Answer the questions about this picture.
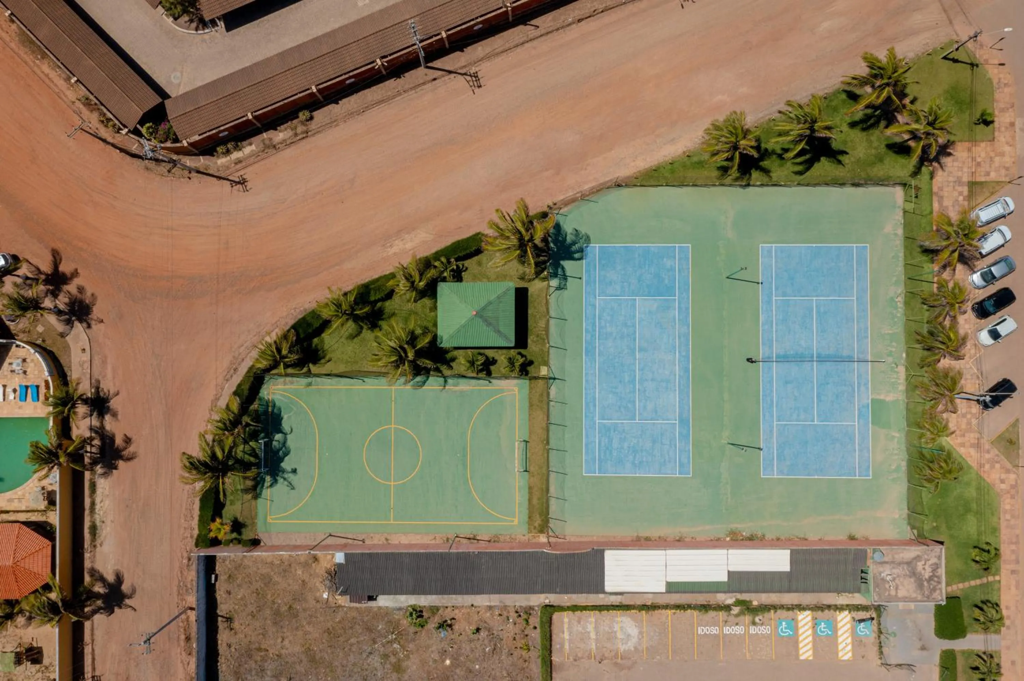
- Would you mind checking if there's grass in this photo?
Yes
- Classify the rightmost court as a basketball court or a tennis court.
tennis court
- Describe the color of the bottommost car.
black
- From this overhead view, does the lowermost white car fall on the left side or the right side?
right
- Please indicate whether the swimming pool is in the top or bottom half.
bottom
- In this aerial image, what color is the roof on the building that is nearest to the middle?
green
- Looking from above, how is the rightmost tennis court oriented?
vertically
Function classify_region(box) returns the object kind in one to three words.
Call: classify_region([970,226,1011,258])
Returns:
car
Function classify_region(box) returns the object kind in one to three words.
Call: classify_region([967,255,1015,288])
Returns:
car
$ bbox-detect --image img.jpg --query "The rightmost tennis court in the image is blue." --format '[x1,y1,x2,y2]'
[760,244,872,479]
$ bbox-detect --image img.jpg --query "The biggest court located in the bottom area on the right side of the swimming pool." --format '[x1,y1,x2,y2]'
[257,377,529,534]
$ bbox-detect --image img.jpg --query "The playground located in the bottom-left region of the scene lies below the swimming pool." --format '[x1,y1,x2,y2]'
[0,633,43,672]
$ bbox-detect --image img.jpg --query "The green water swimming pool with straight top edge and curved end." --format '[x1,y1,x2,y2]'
[0,416,50,495]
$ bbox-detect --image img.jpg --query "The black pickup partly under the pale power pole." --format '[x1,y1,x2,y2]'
[975,375,1020,412]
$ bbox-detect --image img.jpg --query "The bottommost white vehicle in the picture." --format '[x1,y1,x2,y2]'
[975,314,1019,346]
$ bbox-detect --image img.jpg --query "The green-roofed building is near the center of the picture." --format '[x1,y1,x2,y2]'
[437,282,515,347]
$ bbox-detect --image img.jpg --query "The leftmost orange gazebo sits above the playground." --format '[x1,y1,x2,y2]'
[0,521,57,600]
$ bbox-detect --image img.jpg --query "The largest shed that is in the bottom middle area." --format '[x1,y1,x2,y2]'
[335,549,866,603]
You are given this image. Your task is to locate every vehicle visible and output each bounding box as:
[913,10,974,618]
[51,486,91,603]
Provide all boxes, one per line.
[975,314,1019,346]
[970,285,1019,319]
[975,375,1020,412]
[0,253,19,274]
[967,255,1015,288]
[967,197,1012,227]
[970,226,1011,258]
